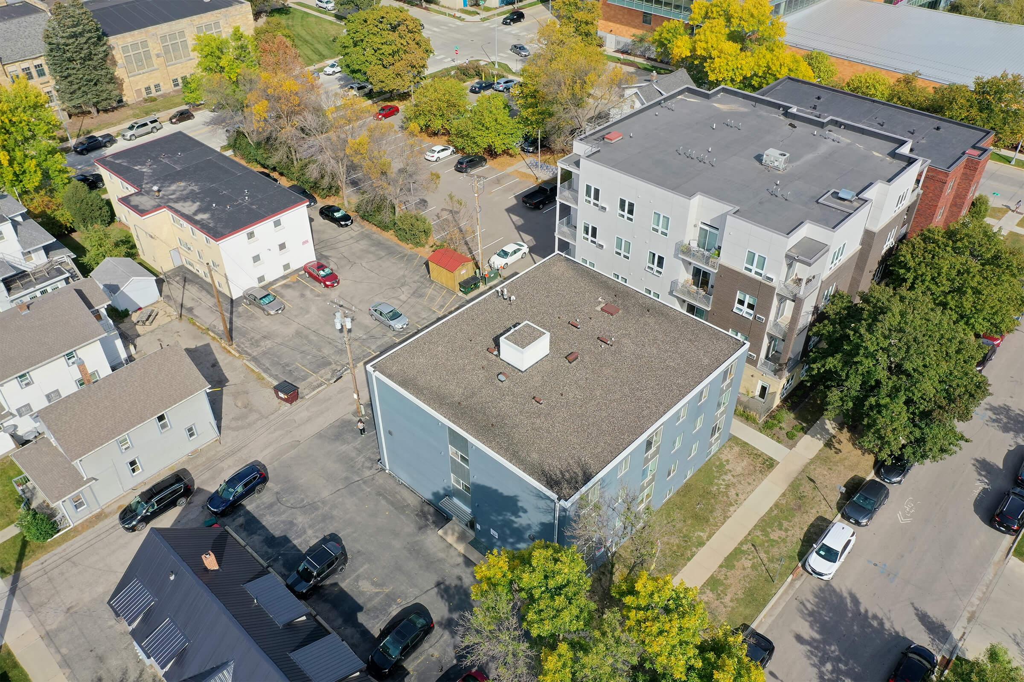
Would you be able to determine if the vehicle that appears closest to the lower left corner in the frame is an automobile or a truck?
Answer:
automobile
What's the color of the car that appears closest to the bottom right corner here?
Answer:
black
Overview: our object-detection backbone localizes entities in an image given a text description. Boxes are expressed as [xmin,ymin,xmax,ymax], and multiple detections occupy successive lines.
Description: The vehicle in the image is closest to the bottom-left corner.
[127,460,206,524]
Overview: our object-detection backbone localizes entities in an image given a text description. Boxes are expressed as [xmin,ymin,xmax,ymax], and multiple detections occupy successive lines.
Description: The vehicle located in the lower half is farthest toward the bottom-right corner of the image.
[892,647,942,682]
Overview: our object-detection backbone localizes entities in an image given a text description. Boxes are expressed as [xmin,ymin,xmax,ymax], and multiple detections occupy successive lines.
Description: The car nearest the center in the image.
[492,239,533,266]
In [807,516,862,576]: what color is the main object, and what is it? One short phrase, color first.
white car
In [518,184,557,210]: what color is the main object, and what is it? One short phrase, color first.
black truck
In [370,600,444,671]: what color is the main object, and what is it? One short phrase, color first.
black car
